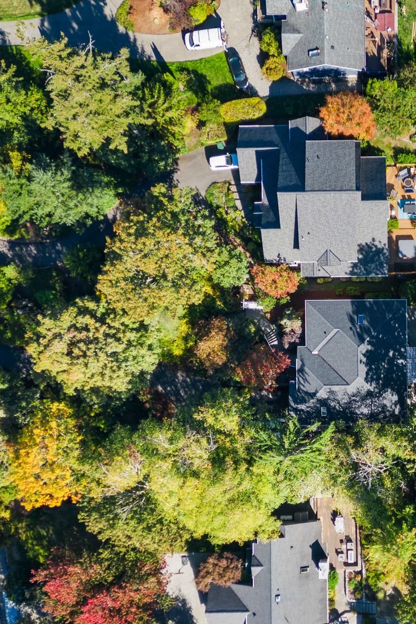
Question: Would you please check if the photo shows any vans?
Yes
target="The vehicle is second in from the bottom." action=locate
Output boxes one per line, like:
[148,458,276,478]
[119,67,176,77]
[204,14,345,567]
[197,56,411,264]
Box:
[227,54,249,90]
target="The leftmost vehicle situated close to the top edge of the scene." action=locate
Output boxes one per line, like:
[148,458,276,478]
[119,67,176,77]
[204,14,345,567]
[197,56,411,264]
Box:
[183,22,229,50]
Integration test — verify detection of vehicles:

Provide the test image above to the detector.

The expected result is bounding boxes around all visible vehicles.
[212,154,237,171]
[227,54,249,90]
[183,22,229,50]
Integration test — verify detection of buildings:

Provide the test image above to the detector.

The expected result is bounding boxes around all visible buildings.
[264,0,366,78]
[235,115,387,278]
[289,299,408,425]
[203,516,331,624]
